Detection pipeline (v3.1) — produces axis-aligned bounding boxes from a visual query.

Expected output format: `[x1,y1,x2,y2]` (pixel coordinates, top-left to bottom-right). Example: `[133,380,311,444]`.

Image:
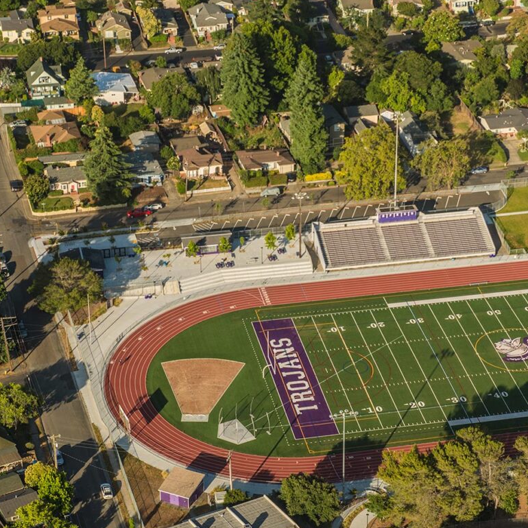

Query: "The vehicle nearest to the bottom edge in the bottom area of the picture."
[100,482,114,499]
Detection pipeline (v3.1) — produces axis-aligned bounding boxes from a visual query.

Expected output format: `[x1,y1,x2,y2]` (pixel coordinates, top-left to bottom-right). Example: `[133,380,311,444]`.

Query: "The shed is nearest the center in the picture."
[175,220,237,253]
